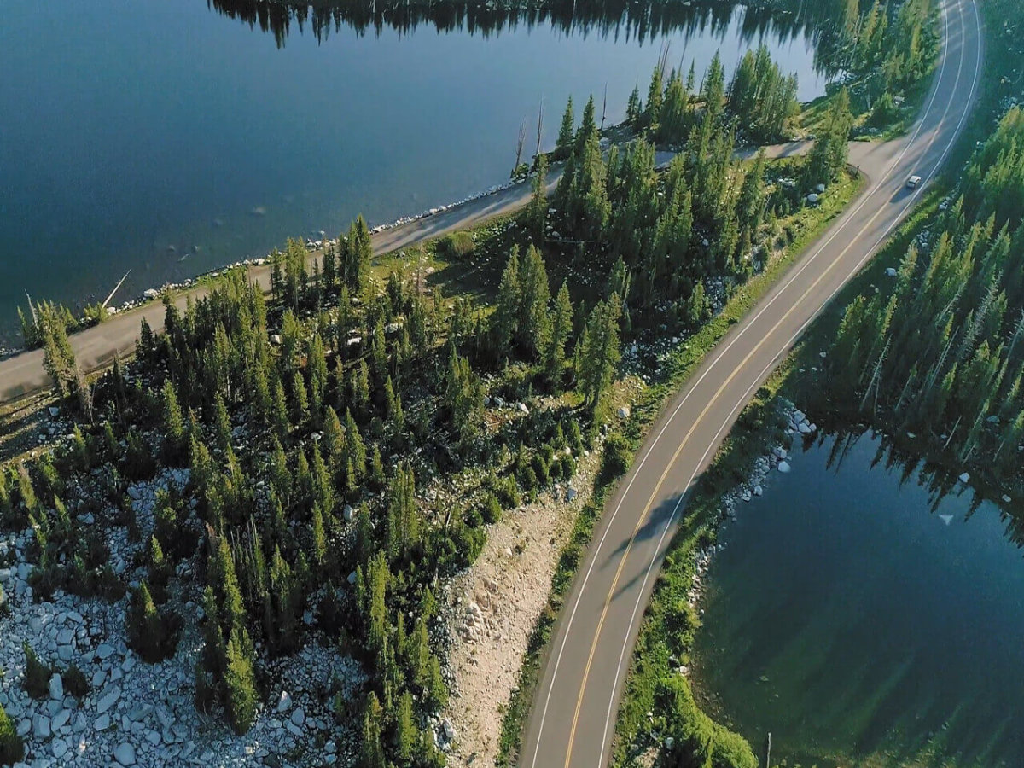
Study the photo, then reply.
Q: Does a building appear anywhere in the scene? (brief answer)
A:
No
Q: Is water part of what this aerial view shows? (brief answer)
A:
Yes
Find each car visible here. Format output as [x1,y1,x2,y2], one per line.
[905,176,920,189]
